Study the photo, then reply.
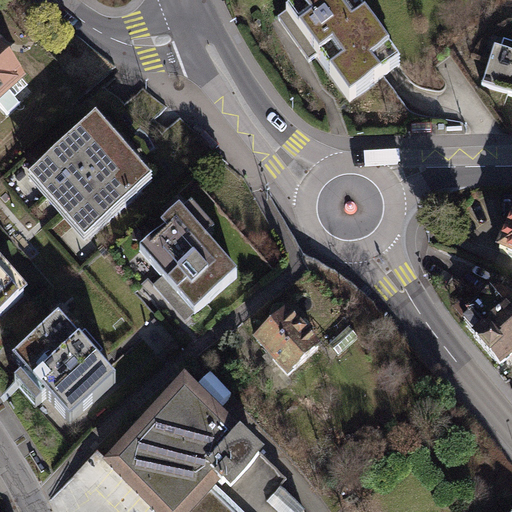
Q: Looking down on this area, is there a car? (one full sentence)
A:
Yes, the picture does show a car.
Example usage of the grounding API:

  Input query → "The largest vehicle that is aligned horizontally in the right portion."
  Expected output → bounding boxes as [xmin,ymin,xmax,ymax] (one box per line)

[354,149,400,166]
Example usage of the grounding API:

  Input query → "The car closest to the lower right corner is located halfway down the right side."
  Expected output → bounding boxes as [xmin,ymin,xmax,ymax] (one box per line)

[471,294,490,316]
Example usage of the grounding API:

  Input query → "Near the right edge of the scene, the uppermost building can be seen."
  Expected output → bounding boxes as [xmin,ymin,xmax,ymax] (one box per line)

[480,37,512,104]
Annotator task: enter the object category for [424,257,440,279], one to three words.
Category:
car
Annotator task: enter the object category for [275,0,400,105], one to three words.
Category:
building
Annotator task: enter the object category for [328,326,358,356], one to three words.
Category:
greenhouse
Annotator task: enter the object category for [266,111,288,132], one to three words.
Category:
car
